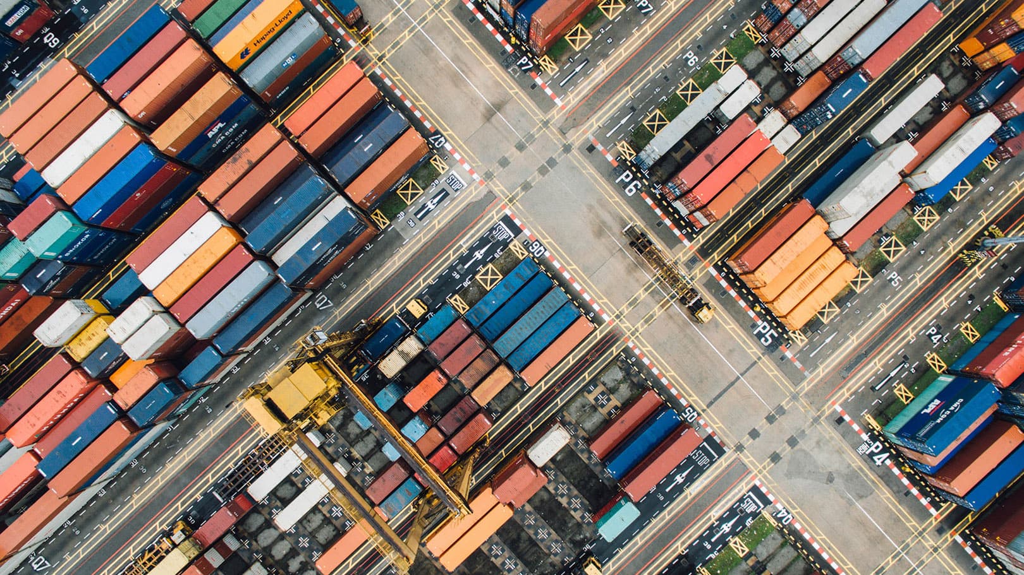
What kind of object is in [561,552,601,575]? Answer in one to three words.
truck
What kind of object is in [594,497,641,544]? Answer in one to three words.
shipping container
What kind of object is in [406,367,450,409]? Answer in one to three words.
shipping container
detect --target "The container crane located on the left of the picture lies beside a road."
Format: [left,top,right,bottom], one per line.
[233,309,490,575]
